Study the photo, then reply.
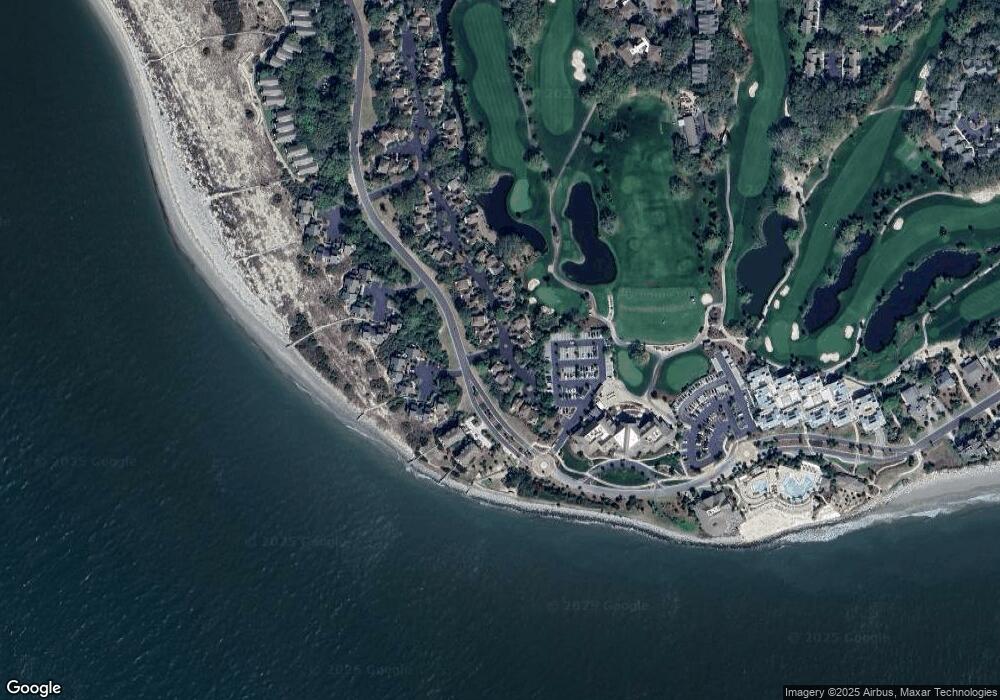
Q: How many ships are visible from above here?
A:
zero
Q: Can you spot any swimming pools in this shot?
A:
Yes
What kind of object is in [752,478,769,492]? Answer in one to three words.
swimming pool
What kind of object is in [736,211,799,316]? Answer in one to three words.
pond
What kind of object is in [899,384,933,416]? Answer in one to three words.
house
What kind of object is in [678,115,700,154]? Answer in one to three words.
building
